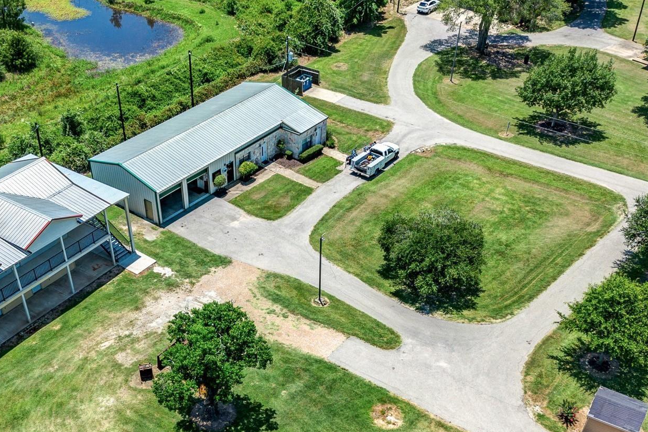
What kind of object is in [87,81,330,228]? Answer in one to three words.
building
